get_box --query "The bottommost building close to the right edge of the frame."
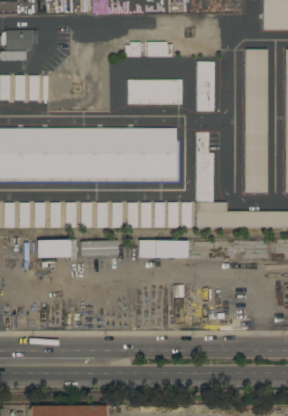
[228,210,288,226]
